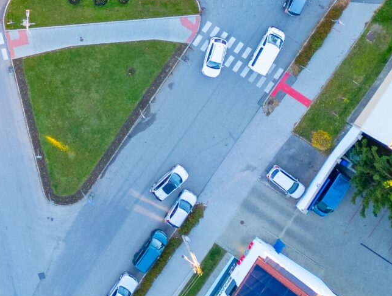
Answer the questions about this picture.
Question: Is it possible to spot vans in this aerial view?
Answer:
Yes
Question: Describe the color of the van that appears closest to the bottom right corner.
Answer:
blue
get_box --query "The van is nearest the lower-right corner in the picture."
[313,169,357,219]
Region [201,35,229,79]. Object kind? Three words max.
car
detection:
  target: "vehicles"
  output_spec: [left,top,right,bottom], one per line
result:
[105,272,139,296]
[130,229,170,275]
[264,163,302,197]
[248,26,283,78]
[201,35,229,79]
[283,0,306,18]
[149,165,189,202]
[161,189,199,230]
[313,169,357,219]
